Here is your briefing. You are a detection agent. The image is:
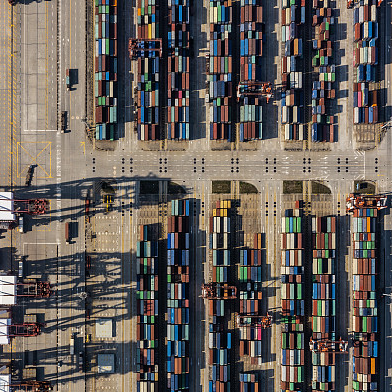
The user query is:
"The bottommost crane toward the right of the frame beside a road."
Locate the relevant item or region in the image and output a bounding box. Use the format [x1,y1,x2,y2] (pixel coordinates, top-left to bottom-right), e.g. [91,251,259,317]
[307,330,347,351]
